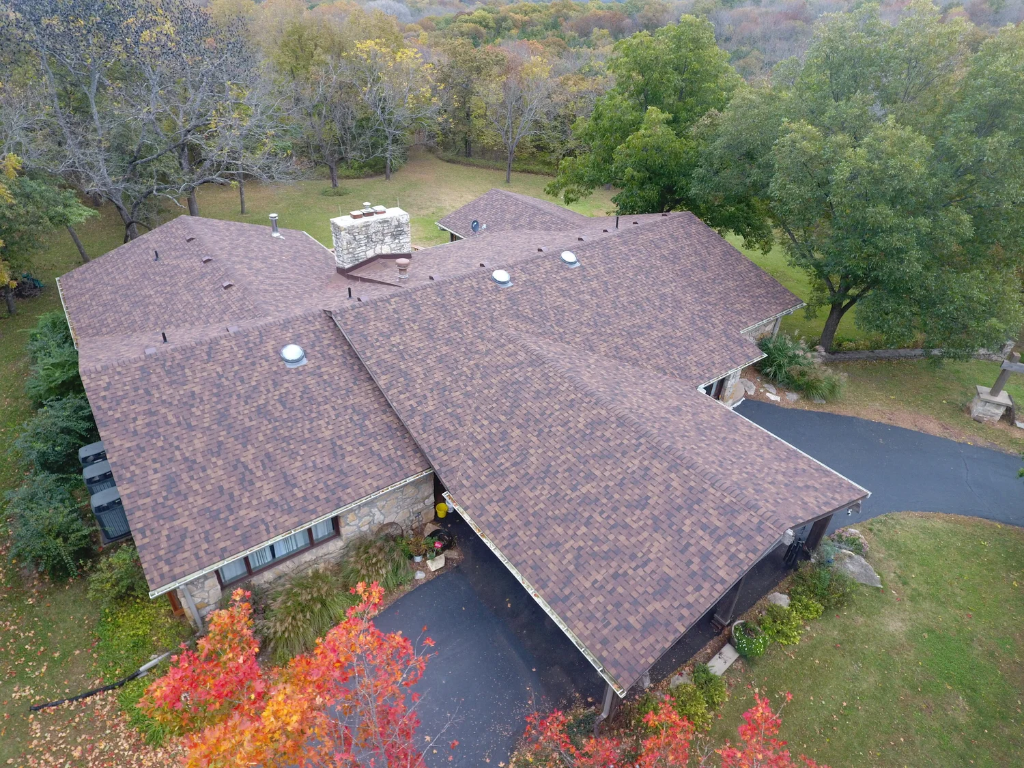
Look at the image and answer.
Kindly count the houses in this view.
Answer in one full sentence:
Only 1 house is visible.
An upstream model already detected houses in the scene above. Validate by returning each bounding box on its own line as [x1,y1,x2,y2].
[55,185,874,763]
